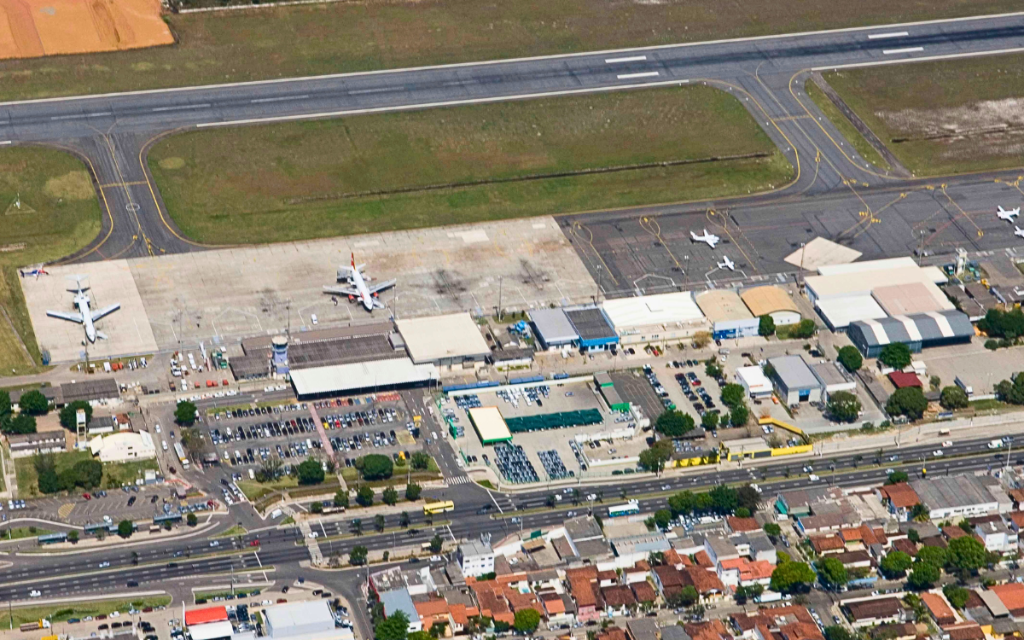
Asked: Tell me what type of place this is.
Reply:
airport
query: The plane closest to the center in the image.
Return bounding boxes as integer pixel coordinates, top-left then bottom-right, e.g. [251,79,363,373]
[323,254,397,311]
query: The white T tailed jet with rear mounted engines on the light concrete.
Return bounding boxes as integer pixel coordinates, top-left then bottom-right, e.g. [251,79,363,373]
[48,277,122,344]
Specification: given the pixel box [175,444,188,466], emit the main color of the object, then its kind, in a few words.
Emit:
white vehicle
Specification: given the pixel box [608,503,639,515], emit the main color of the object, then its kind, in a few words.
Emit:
white vehicle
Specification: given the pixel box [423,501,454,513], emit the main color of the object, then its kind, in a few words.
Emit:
yellow vehicle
